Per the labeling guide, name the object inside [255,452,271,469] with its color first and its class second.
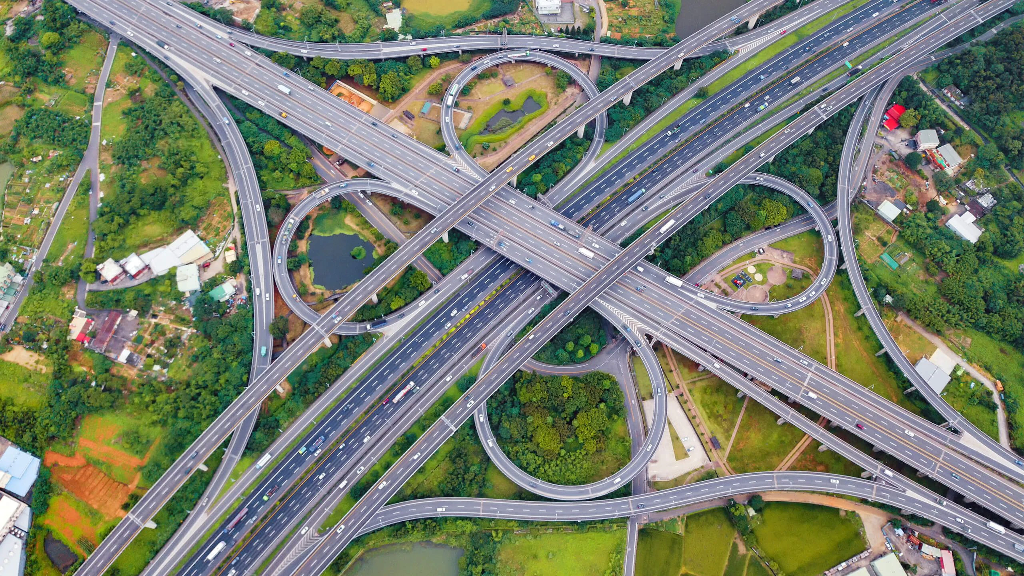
white vehicle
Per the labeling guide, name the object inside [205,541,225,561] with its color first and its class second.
white bus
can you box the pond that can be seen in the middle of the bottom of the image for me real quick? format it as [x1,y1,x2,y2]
[351,539,462,576]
